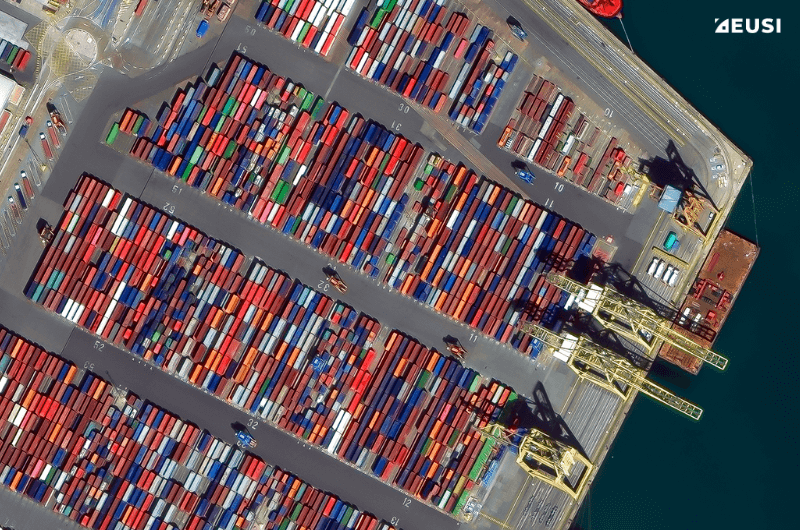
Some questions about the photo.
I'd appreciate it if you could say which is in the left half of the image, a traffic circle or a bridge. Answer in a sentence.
Visible in the left half of the image is a traffic circle.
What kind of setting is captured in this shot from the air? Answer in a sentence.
What you see here is a port.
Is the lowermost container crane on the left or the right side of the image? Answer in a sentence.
The lowermost container crane appears in the right half of the scene.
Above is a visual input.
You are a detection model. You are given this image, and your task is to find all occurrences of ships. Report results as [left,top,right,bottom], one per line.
[578,0,622,18]
[660,229,762,376]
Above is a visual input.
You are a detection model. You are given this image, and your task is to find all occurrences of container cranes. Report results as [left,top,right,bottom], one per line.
[546,271,731,371]
[521,321,705,422]
[470,421,594,502]
[646,184,720,240]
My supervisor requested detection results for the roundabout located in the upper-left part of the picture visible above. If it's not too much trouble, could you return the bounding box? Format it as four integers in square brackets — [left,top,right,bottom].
[27,16,110,102]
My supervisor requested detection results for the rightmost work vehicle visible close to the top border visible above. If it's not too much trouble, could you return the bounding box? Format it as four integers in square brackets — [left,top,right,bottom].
[509,23,530,41]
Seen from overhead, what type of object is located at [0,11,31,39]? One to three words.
building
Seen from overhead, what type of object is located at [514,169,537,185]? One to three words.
work vehicle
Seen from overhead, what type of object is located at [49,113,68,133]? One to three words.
work vehicle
